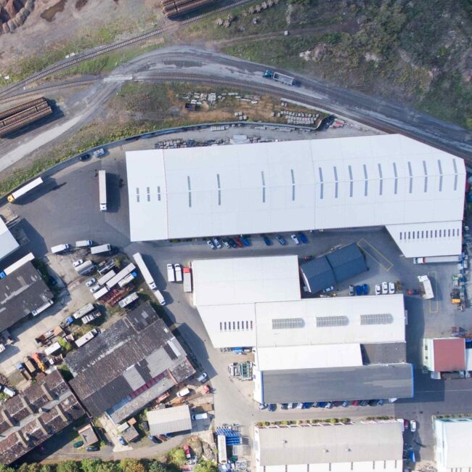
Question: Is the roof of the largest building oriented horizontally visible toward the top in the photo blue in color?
No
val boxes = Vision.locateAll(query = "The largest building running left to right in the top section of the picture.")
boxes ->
[162,134,467,240]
